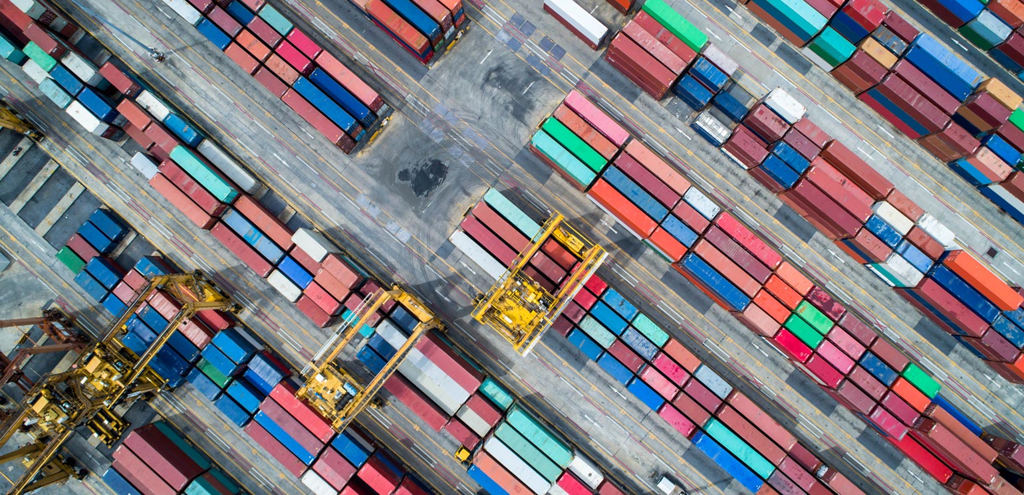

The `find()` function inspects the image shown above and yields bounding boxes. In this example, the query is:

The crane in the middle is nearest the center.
[471,212,614,362]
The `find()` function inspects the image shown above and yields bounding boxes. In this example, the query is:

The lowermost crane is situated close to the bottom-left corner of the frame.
[0,374,147,495]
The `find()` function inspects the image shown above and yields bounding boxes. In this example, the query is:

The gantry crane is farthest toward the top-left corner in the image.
[0,98,46,142]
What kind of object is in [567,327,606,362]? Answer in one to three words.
shipping container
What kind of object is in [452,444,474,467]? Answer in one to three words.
truck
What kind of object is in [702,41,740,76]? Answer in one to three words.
shipping container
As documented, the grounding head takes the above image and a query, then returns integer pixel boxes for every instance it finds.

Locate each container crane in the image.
[0,374,147,495]
[0,98,46,142]
[289,283,446,436]
[471,212,614,362]
[60,267,243,422]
